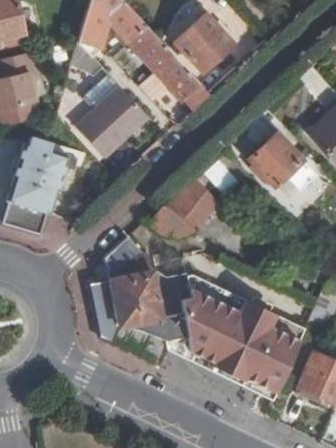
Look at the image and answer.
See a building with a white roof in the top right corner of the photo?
Yes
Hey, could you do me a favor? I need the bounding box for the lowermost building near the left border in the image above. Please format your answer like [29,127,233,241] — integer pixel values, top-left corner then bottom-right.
[8,136,68,214]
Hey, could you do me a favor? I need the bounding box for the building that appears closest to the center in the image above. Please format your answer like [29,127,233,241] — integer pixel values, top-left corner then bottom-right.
[152,180,216,240]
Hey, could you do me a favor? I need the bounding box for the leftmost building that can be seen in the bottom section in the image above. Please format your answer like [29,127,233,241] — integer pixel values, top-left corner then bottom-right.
[90,236,184,344]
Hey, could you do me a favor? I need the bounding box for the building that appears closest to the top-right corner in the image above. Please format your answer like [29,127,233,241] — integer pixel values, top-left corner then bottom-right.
[301,68,332,101]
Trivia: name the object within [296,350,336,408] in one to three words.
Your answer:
house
